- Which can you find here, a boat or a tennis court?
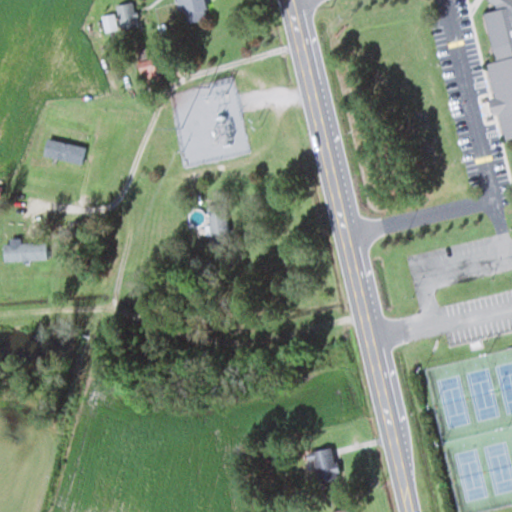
tennis court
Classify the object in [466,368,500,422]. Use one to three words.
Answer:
tennis court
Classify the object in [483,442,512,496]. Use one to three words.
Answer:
tennis court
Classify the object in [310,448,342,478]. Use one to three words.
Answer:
house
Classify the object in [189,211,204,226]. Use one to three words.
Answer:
swimming pool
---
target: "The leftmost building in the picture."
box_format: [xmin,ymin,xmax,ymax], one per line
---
[2,236,47,266]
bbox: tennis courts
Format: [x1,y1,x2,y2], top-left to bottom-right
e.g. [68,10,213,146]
[437,376,472,430]
[495,362,512,415]
[466,368,500,422]
[483,442,512,496]
[454,449,488,503]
